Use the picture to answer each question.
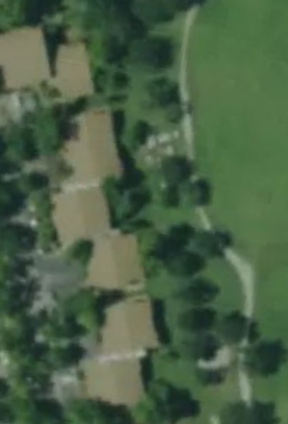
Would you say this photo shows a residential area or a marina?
residential area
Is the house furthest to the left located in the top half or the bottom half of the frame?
top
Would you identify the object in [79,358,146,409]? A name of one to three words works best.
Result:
house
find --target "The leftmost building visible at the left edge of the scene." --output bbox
[0,27,50,89]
